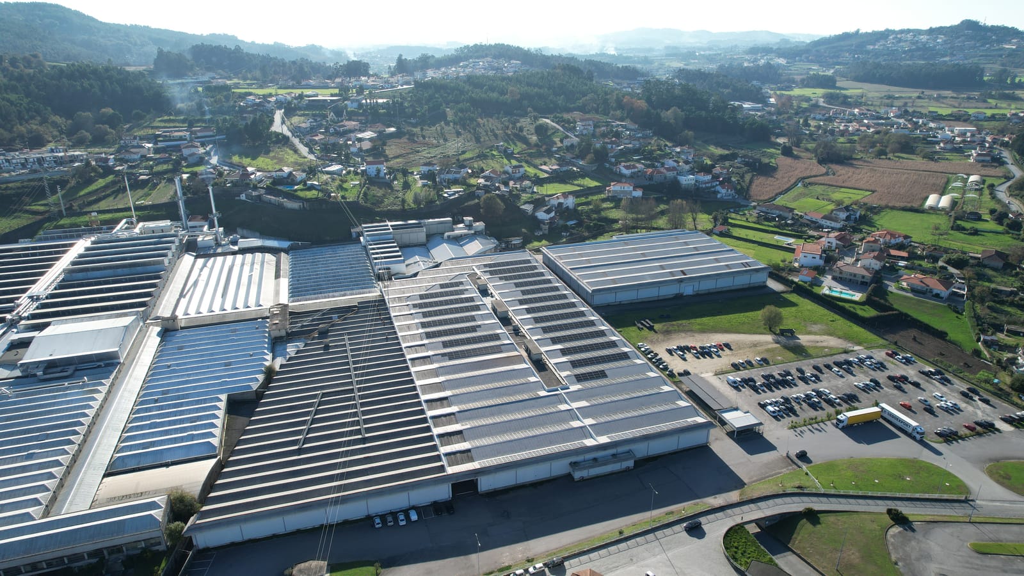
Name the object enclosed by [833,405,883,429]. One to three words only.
truck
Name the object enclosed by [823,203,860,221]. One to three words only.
house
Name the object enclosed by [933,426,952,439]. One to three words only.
vehicle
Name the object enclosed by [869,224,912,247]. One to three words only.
house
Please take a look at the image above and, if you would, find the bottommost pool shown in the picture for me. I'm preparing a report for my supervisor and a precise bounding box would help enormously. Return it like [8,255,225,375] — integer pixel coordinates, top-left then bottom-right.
[822,286,861,300]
